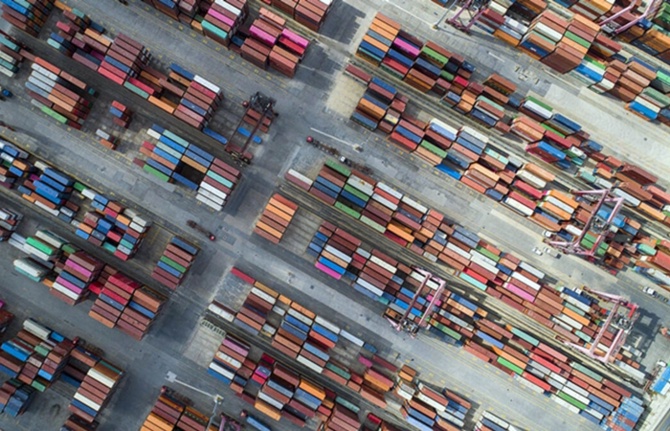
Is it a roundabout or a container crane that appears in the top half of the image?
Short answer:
container crane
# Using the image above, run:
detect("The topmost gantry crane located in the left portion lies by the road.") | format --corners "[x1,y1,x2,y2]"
[221,88,287,168]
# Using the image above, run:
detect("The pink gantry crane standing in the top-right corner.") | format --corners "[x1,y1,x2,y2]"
[597,0,656,46]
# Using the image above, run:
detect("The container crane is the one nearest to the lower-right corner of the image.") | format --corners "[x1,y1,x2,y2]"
[551,283,642,366]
